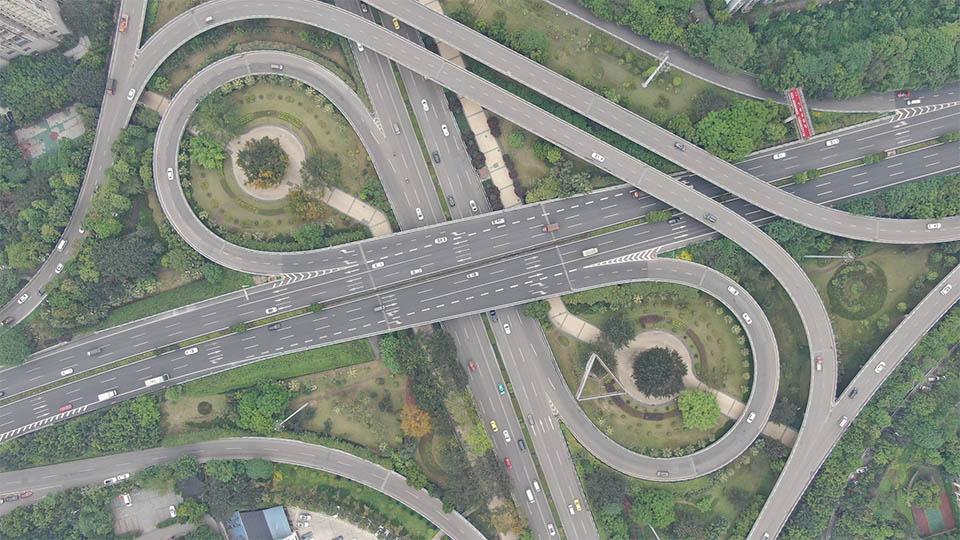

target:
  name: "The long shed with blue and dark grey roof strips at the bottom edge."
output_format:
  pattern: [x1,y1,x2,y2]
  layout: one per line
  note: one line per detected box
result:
[225,502,310,540]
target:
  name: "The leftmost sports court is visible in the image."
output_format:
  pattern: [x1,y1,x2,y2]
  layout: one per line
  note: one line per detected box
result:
[14,110,85,157]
